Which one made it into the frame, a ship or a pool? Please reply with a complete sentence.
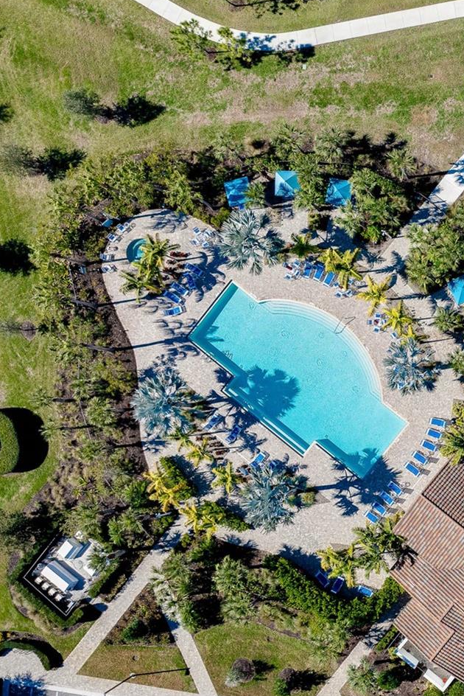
It is a pool that can be seen here.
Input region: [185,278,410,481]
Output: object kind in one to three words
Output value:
swimming pool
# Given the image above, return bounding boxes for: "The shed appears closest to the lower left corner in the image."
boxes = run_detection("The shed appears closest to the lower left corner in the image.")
[43,558,83,590]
